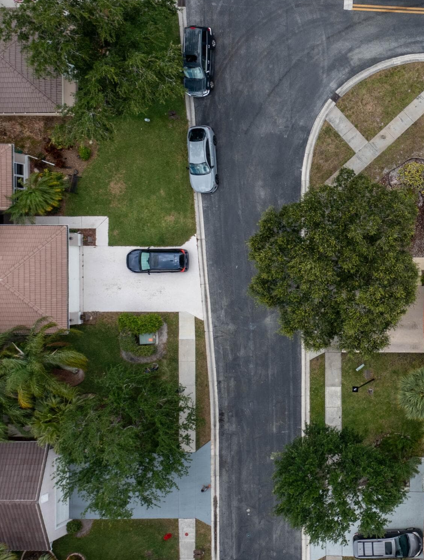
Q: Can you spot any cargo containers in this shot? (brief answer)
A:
No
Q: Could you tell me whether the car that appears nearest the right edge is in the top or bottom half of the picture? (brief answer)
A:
bottom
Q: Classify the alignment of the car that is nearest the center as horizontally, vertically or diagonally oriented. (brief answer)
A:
horizontally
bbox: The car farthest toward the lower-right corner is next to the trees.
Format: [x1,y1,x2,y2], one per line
[346,527,421,560]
